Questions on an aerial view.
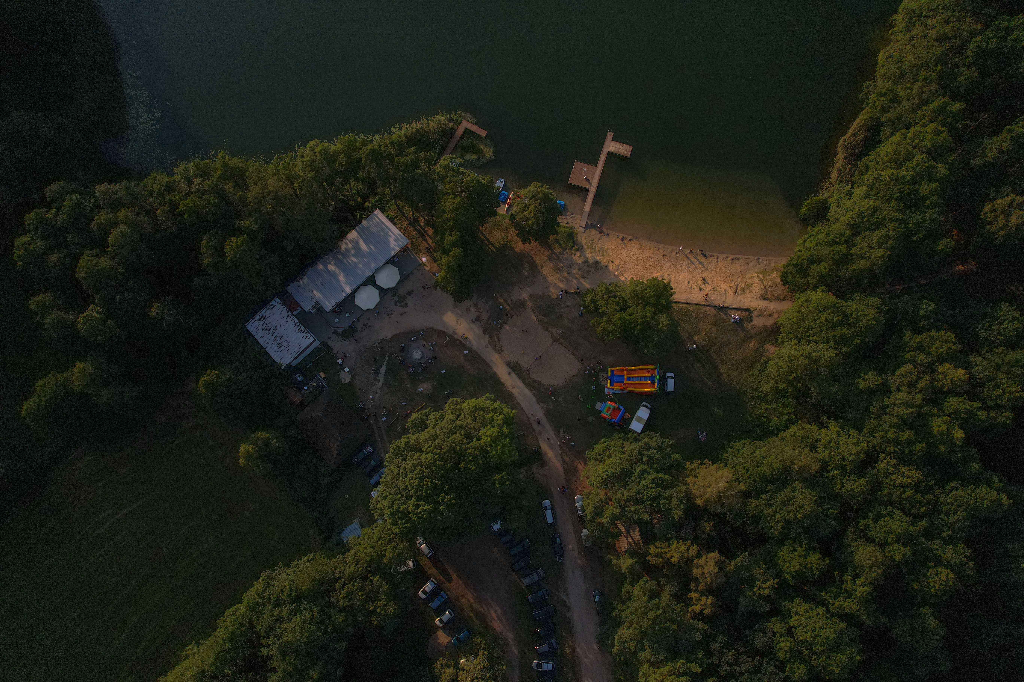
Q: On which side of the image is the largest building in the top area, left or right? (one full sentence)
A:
The largest building in the top area sits on the left side.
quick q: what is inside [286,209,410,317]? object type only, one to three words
building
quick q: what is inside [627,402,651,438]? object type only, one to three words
truck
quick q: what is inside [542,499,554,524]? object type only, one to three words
vehicle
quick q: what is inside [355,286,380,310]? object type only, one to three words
umbrella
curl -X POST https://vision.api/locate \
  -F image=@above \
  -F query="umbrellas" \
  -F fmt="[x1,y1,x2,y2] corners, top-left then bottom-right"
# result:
[375,264,400,288]
[355,286,380,310]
